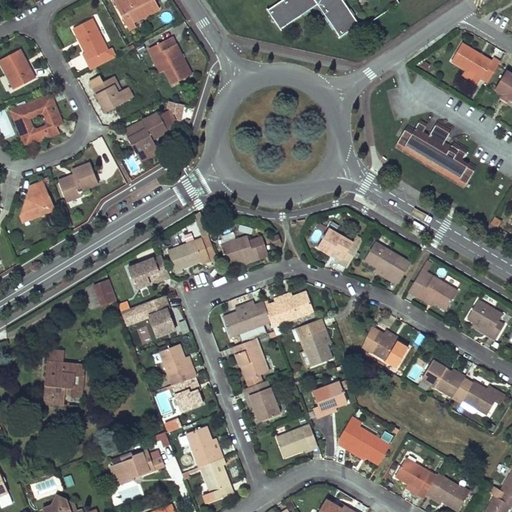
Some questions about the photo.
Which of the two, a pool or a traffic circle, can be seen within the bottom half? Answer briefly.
pool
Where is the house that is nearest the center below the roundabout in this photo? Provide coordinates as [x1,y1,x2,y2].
[222,235,269,264]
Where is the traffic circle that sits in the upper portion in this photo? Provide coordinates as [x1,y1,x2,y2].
[206,62,351,208]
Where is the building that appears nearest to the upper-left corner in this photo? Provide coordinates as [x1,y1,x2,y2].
[0,49,37,89]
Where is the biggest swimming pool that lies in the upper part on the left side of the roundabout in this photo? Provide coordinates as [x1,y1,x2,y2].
[124,152,142,176]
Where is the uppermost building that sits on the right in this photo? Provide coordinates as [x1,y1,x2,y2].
[267,0,360,38]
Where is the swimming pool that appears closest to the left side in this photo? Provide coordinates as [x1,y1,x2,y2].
[34,478,58,492]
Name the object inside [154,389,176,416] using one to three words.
swimming pool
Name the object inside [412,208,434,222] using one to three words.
vehicle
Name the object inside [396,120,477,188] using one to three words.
building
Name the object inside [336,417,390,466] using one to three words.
house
